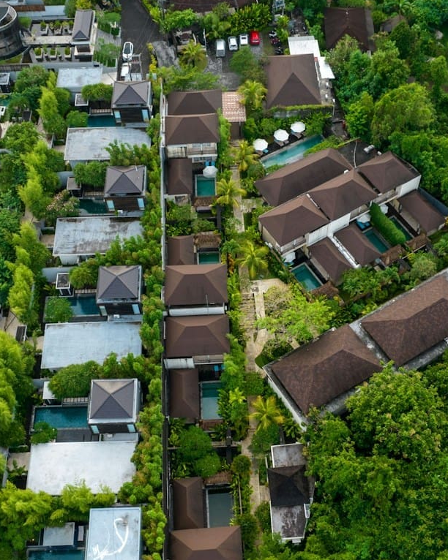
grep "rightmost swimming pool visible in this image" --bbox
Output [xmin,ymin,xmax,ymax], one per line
[391,215,414,241]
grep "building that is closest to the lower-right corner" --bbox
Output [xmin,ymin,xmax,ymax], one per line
[266,443,313,547]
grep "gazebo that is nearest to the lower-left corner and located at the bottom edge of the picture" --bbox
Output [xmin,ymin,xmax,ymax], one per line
[43,523,77,550]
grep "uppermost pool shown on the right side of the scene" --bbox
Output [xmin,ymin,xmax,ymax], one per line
[264,134,323,168]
